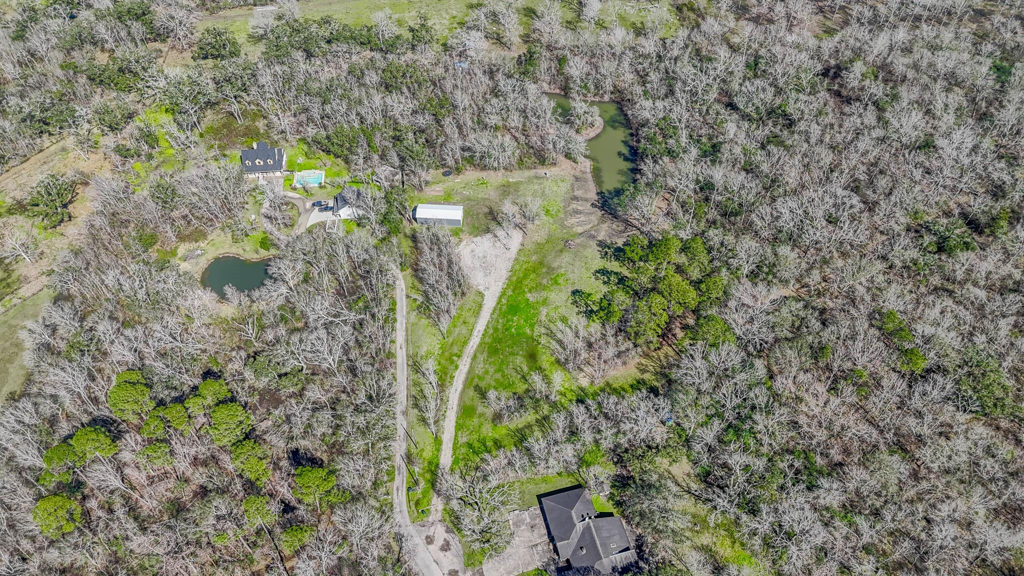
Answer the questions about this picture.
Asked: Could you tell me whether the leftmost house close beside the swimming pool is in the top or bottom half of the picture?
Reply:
top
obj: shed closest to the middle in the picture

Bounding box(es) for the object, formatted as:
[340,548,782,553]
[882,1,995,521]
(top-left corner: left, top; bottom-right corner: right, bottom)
[416,204,464,227]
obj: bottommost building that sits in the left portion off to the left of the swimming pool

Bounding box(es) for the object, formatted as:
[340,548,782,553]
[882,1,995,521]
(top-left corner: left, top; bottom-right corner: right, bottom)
[243,138,289,182]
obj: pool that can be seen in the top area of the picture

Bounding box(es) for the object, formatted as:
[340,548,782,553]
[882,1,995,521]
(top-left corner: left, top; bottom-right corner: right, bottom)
[293,171,326,188]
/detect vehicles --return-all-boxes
[311,199,329,207]
[316,204,334,212]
